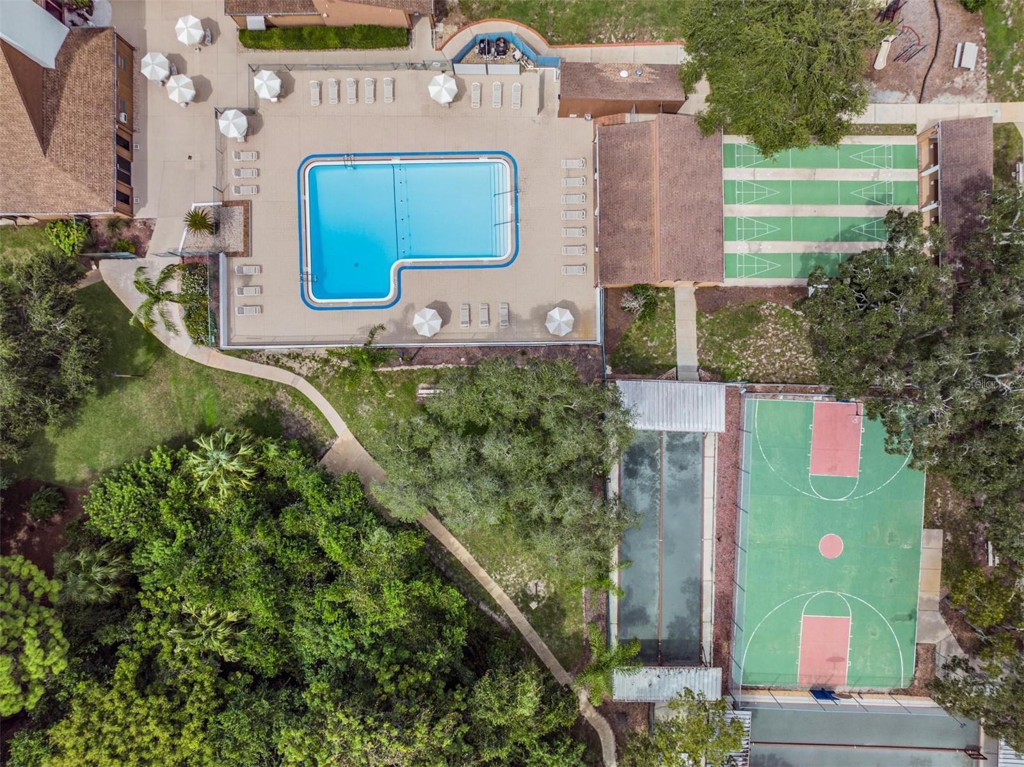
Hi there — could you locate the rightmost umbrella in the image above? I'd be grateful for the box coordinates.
[544,307,574,337]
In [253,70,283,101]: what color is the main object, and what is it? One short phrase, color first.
white umbrella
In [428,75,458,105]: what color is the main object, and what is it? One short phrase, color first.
white umbrella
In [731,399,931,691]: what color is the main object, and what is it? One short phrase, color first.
green basketball court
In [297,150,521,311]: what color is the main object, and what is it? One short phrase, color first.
blue swimming pool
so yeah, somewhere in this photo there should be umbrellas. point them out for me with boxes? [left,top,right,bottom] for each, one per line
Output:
[253,70,283,101]
[219,110,249,140]
[428,75,458,105]
[176,16,207,47]
[167,75,198,105]
[142,53,173,84]
[544,307,574,337]
[413,307,443,337]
